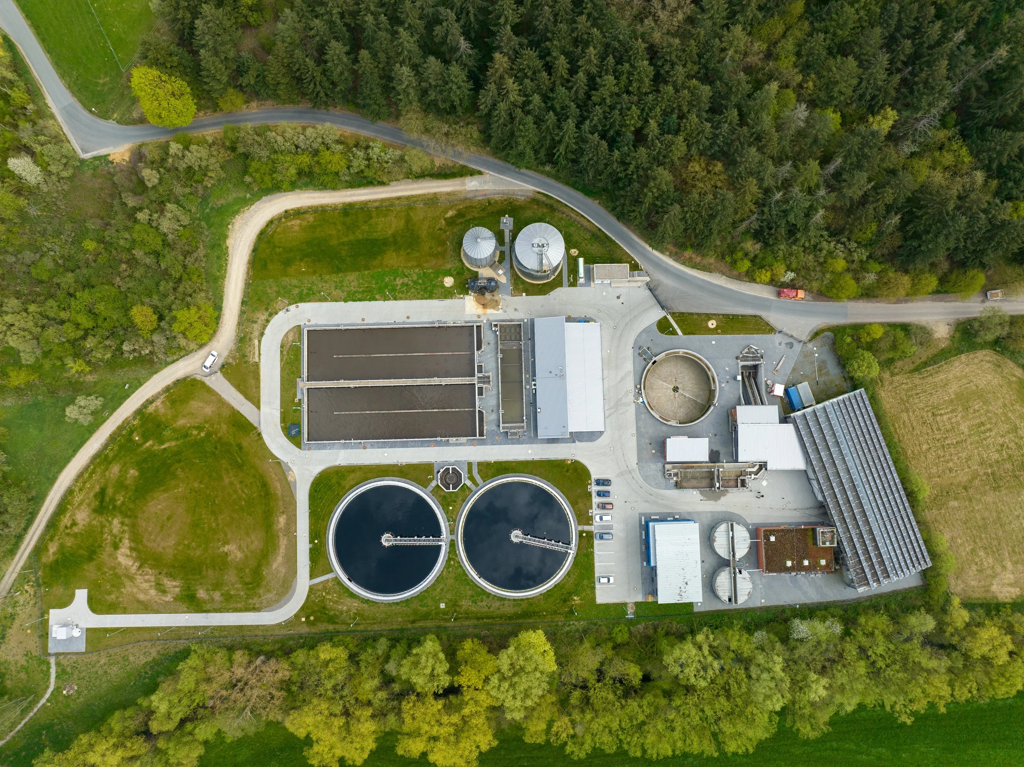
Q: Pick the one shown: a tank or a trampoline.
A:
tank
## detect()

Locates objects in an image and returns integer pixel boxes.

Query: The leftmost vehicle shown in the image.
[203,349,217,371]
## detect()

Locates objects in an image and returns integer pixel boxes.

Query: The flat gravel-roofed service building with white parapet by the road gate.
[593,264,629,284]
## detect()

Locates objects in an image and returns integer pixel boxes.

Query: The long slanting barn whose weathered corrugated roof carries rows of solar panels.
[787,389,931,592]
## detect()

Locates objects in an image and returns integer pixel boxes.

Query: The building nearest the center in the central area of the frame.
[535,316,607,438]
